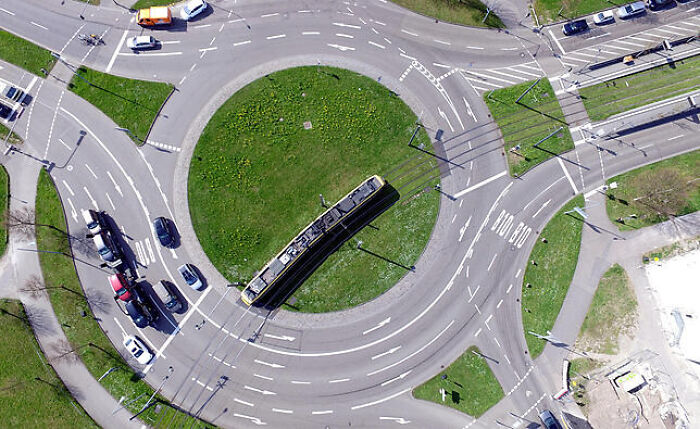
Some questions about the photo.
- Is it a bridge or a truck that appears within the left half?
truck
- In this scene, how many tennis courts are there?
zero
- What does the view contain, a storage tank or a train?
train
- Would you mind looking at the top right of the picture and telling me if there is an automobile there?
Yes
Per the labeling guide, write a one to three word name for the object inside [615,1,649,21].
car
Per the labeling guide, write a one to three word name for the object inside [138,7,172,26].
vehicle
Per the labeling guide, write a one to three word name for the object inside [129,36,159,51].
car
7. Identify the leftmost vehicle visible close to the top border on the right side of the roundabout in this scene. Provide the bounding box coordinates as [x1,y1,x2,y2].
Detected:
[560,19,591,38]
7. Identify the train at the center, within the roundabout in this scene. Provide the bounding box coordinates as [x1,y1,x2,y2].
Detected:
[241,171,389,303]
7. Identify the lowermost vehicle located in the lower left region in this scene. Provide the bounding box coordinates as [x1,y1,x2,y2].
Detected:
[124,333,152,364]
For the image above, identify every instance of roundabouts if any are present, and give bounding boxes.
[133,15,495,372]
